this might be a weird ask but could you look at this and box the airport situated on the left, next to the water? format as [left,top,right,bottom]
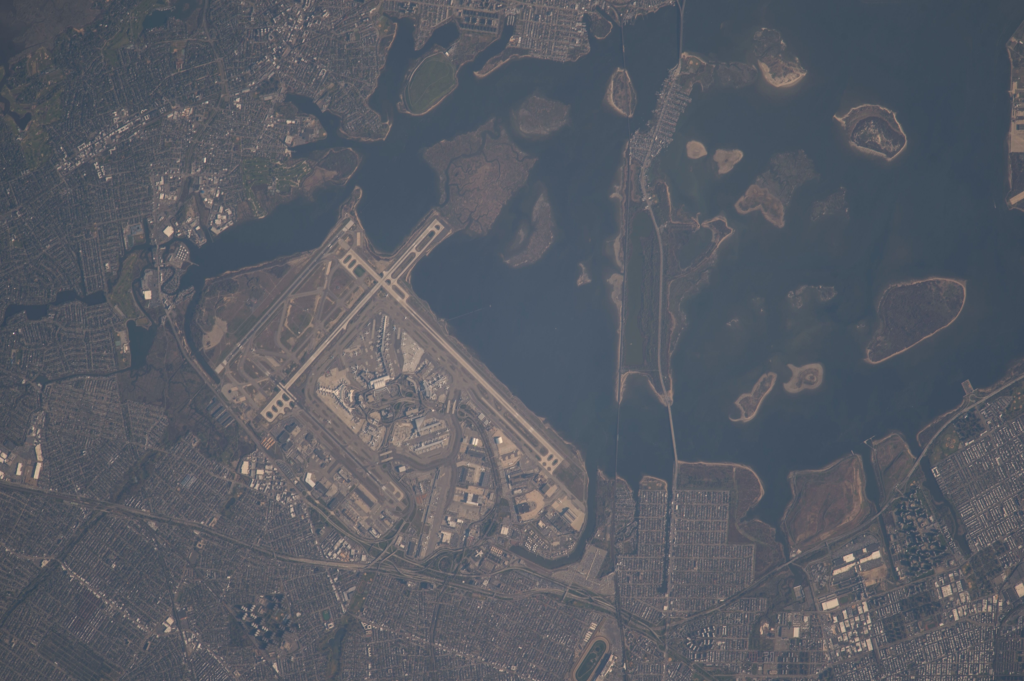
[215,214,585,559]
